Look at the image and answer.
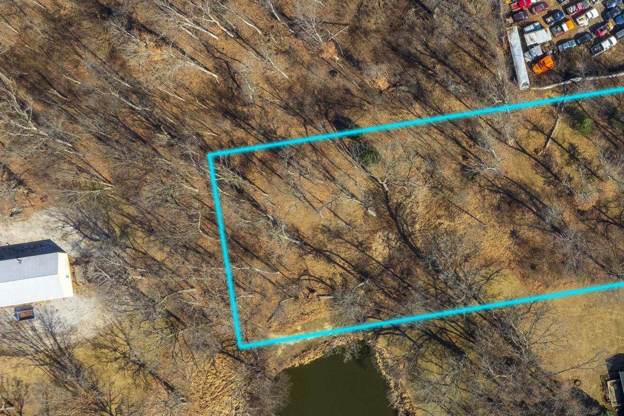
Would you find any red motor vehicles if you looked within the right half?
Yes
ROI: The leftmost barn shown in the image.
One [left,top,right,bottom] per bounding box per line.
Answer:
[0,252,71,307]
